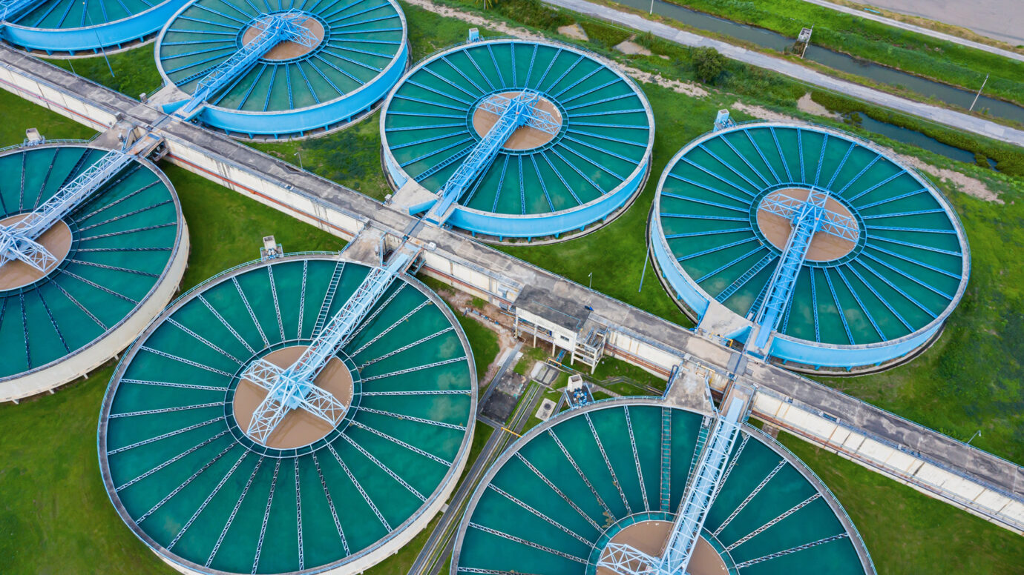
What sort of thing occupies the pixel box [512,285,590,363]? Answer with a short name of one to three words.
building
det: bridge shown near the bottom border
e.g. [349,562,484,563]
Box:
[595,398,745,575]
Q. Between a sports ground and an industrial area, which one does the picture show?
industrial area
